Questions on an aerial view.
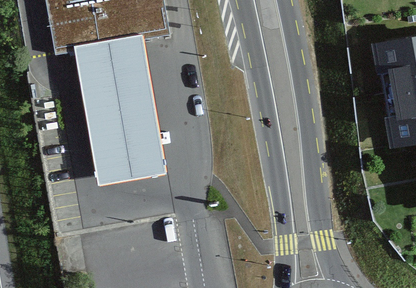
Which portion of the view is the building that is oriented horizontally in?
top left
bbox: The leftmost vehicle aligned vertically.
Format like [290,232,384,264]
[164,218,176,242]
